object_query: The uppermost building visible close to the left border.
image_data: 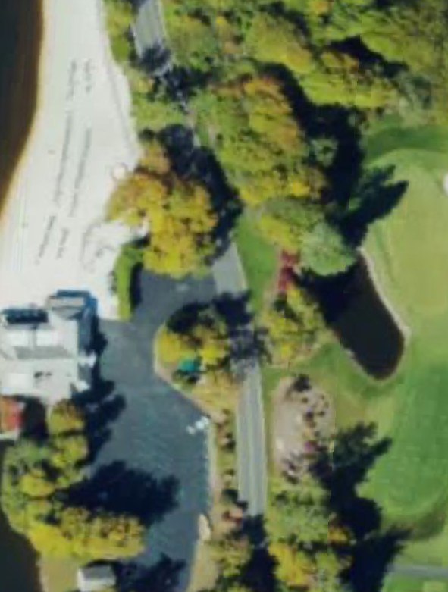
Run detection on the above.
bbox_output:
[0,290,96,403]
